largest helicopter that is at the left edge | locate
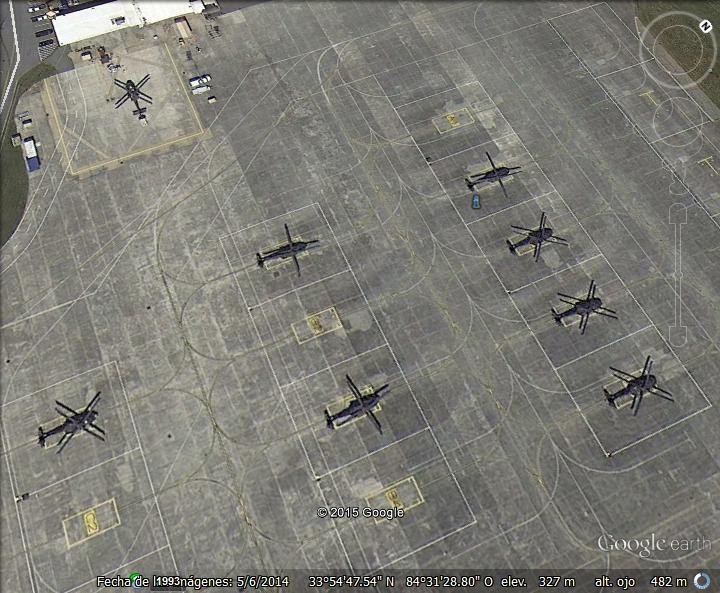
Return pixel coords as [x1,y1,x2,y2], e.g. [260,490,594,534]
[33,397,106,454]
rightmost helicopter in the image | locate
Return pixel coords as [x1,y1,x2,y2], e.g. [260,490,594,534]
[604,359,674,414]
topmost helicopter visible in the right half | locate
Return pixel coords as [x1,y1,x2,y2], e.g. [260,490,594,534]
[463,155,519,196]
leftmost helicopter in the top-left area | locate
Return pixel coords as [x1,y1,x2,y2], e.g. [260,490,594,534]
[115,78,154,120]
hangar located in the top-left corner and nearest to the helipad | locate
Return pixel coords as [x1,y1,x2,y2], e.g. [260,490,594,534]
[52,0,202,53]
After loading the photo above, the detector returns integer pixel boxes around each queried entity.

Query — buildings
[52,0,202,53]
[204,4,221,20]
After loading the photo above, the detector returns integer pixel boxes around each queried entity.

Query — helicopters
[463,155,519,196]
[507,217,569,263]
[604,359,674,414]
[115,78,154,120]
[552,285,618,336]
[254,224,316,270]
[317,380,384,433]
[33,397,106,454]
